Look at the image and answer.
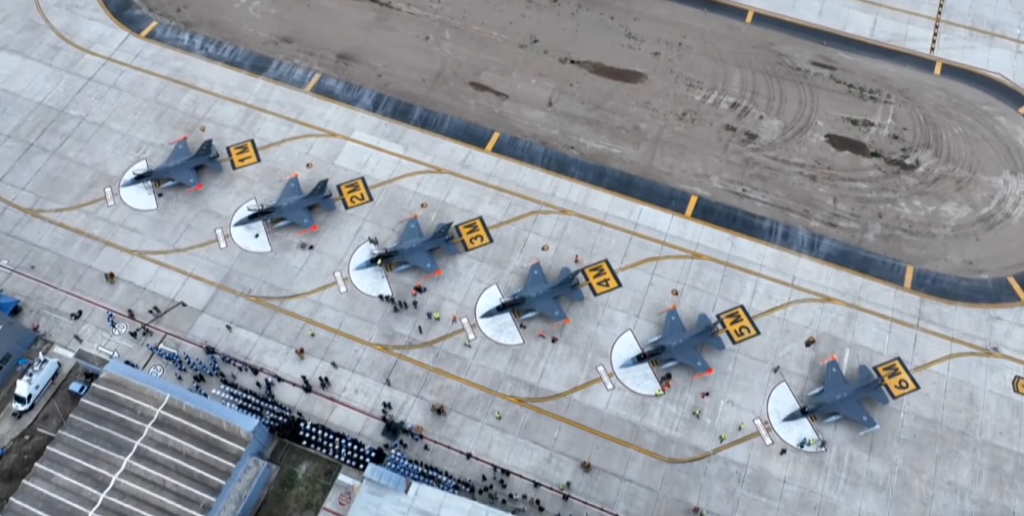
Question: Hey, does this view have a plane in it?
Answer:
Yes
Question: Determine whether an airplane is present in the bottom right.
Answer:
Yes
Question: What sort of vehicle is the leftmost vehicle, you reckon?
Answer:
truck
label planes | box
[120,136,219,193]
[778,356,894,434]
[478,261,582,330]
[352,215,455,280]
[232,174,332,234]
[616,306,724,380]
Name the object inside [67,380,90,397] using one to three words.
car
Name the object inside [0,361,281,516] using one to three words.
building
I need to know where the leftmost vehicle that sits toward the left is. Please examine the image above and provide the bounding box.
[8,355,64,417]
